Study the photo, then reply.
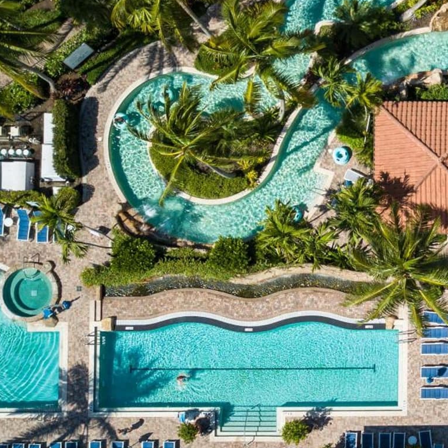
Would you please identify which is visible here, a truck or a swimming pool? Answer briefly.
swimming pool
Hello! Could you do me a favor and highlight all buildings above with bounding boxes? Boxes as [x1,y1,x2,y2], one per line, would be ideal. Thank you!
[373,100,448,234]
[0,160,47,191]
